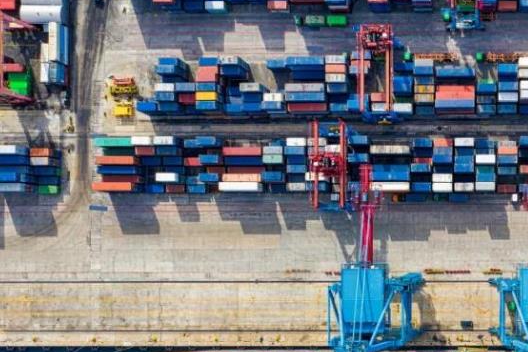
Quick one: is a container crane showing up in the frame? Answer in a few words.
Yes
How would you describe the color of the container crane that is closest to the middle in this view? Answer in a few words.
red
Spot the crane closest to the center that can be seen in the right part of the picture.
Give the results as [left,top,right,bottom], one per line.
[308,117,362,211]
